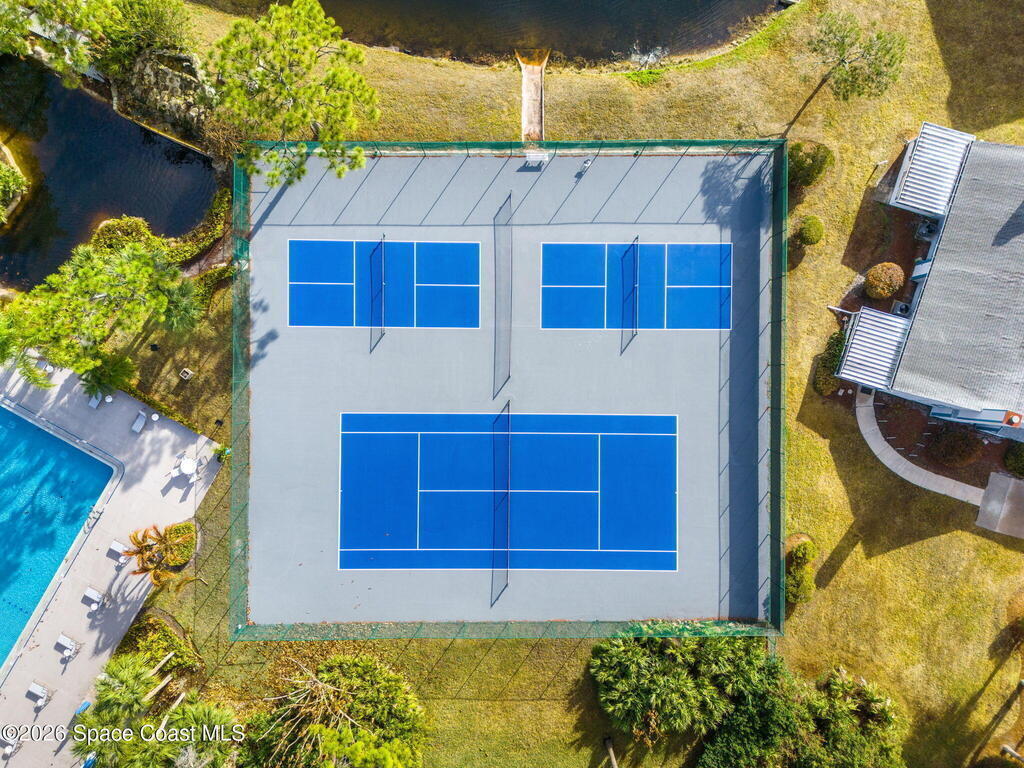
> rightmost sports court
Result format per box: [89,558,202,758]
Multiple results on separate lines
[541,242,732,330]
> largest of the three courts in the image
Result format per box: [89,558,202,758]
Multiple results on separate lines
[339,413,678,572]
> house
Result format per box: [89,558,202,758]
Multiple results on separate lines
[834,120,1024,453]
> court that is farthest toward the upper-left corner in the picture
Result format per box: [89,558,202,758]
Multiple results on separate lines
[289,240,480,328]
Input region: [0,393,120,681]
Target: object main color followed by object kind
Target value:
blue swimming pool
